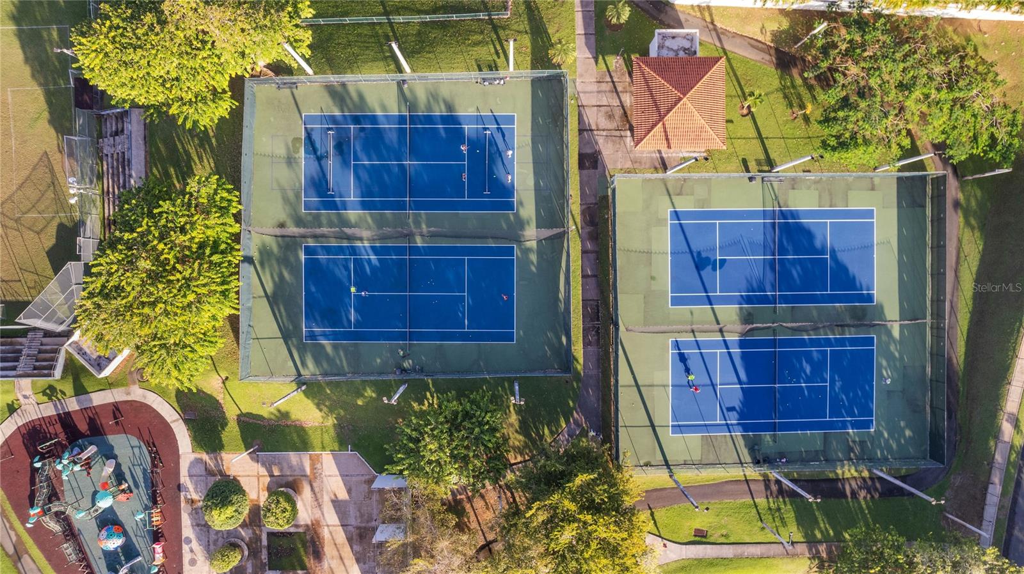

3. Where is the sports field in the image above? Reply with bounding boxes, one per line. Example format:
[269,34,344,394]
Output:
[0,0,79,325]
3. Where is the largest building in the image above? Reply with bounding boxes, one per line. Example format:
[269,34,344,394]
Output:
[632,56,727,151]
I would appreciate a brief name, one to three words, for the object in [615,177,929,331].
tennis court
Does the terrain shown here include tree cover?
Yes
